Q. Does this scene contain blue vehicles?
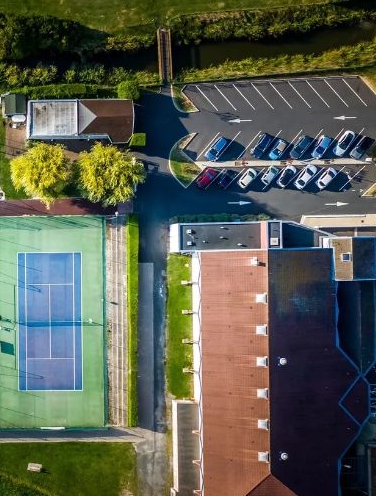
Yes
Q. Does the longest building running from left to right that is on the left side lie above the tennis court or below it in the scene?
above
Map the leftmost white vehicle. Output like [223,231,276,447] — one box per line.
[236,166,258,189]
